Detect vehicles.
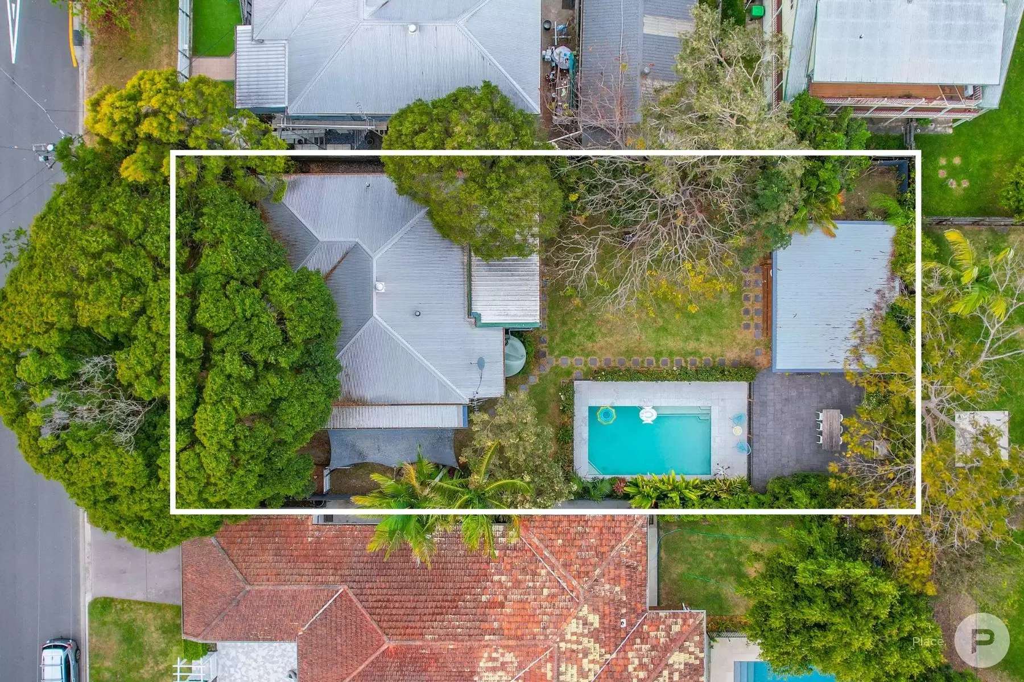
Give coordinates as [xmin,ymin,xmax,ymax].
[35,634,87,682]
